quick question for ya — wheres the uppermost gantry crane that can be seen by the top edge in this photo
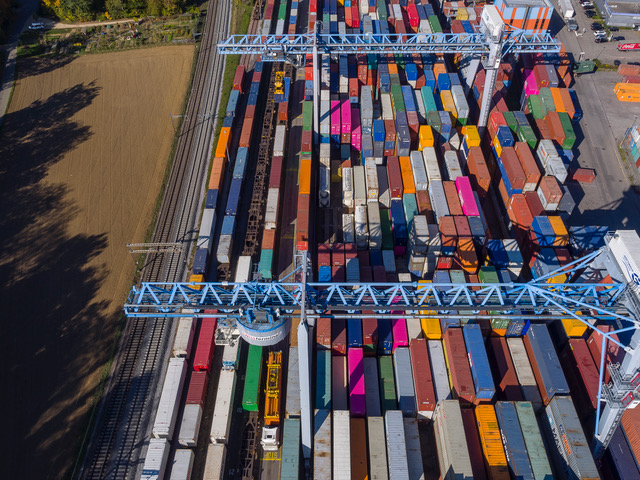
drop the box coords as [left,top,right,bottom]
[211,0,562,152]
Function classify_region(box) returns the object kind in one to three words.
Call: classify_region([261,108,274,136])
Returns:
rail car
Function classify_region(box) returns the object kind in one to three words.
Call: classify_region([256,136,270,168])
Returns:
rail car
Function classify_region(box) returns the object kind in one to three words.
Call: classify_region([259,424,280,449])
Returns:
vehicle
